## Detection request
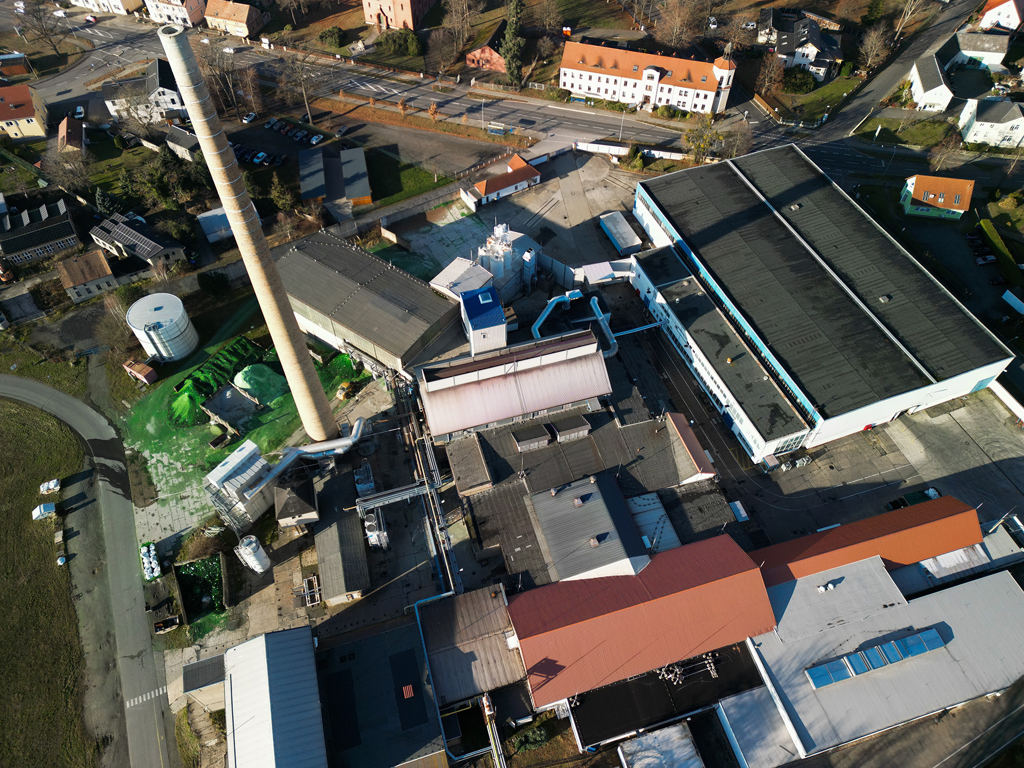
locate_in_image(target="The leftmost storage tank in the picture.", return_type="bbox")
[124,290,201,366]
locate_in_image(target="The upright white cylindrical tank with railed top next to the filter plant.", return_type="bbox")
[231,533,279,582]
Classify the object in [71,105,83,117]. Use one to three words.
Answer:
vehicle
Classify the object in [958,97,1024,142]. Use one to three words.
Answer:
house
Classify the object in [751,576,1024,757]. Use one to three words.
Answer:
building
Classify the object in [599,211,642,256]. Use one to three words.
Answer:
shipping container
